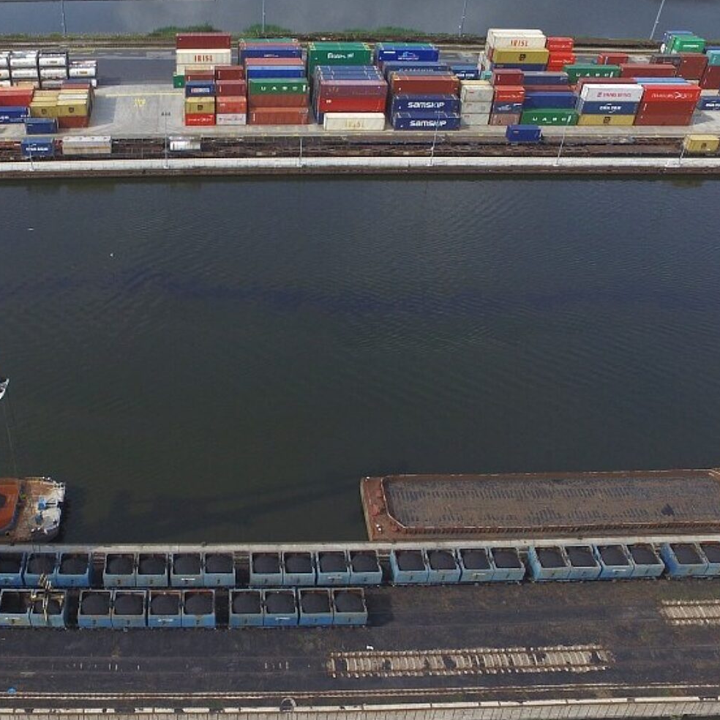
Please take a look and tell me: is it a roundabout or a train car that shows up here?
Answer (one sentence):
It is a train car that can be seen here.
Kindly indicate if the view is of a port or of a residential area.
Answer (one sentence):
It's a port.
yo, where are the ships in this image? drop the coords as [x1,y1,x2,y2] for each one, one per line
[0,472,67,543]
[359,469,720,539]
